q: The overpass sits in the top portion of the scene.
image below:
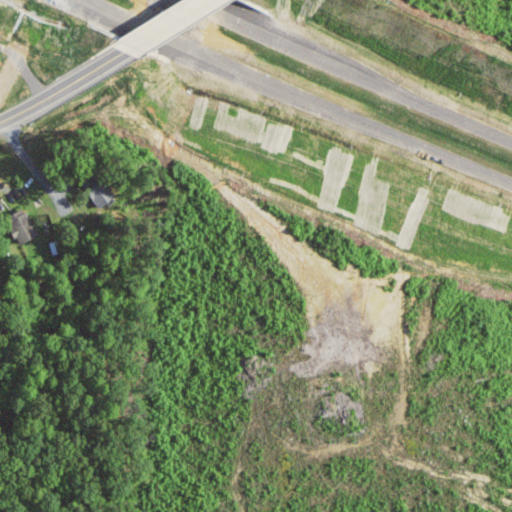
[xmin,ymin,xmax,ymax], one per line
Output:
[83,0,273,66]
